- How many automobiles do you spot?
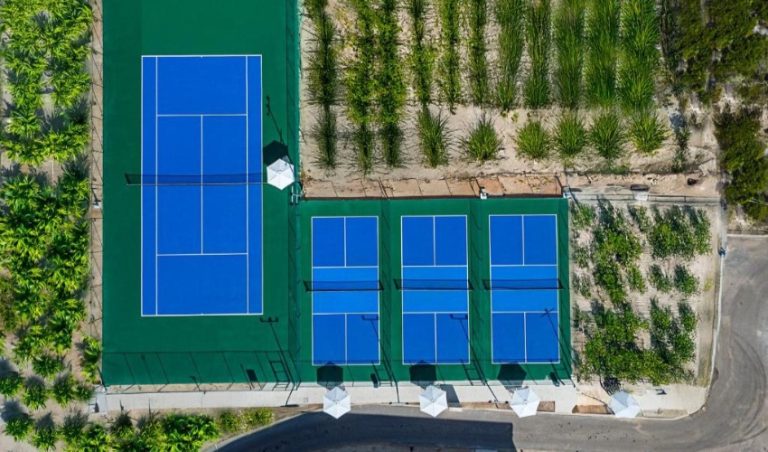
0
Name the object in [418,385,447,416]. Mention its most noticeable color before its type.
white umbrella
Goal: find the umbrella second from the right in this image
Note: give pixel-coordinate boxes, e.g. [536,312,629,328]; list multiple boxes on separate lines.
[508,387,539,417]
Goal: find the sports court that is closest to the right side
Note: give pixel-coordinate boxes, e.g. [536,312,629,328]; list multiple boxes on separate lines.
[480,199,572,382]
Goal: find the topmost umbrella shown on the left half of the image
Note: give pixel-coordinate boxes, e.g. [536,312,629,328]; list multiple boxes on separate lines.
[267,157,295,189]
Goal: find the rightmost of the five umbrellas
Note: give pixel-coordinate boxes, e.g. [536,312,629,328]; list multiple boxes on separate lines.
[607,388,638,418]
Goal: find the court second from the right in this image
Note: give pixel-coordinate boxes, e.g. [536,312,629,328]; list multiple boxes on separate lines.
[391,199,483,382]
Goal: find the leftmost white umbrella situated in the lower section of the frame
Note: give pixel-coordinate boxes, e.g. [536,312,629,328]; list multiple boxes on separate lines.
[322,386,350,418]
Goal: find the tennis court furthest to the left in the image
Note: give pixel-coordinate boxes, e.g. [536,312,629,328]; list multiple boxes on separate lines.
[103,0,300,385]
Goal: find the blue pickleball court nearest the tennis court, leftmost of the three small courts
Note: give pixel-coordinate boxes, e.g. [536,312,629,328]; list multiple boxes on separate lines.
[301,199,392,382]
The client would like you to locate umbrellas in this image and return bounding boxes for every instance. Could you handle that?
[418,385,447,416]
[267,157,295,189]
[322,386,350,418]
[607,388,638,418]
[508,387,539,417]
